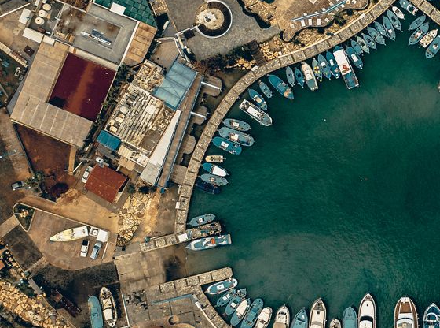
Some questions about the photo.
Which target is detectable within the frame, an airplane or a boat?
boat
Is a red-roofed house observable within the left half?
Yes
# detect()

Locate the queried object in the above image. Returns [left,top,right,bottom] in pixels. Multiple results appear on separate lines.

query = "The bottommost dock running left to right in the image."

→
[154,267,235,295]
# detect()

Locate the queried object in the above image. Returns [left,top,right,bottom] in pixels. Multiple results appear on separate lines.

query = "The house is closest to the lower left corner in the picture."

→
[85,165,130,203]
